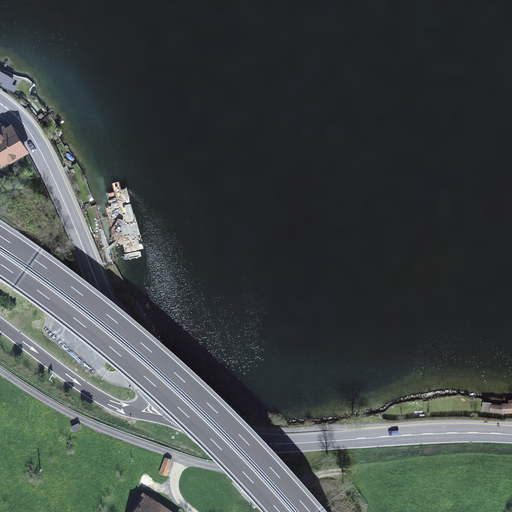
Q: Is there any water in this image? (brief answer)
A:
Yes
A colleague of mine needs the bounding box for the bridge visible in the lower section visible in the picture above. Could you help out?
[0,220,326,512]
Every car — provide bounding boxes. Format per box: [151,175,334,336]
[388,430,399,436]
[27,138,36,150]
